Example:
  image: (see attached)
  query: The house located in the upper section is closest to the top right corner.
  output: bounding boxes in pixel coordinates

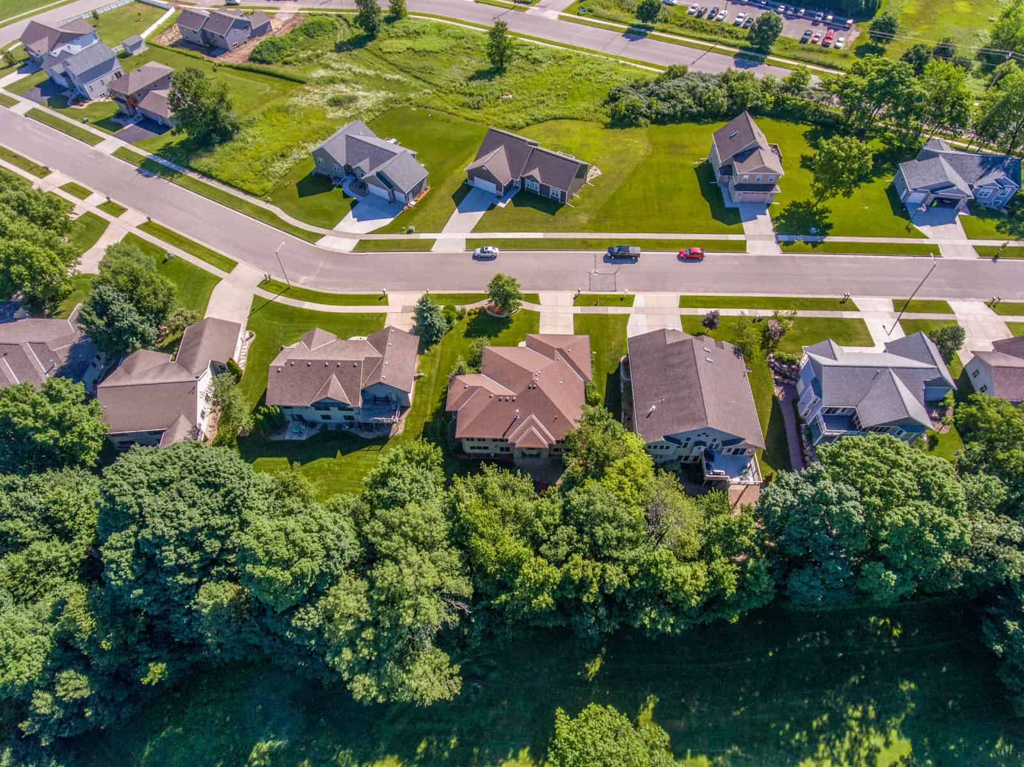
[894,138,1024,210]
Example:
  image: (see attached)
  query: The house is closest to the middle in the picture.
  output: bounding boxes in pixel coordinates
[446,333,592,466]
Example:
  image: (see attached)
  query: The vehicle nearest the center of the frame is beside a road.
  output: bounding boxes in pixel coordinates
[473,247,500,260]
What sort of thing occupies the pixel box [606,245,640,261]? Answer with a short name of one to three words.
vehicle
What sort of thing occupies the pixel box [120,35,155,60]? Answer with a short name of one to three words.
shed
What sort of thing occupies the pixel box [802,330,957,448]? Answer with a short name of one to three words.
house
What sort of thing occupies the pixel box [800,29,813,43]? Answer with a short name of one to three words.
vehicle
